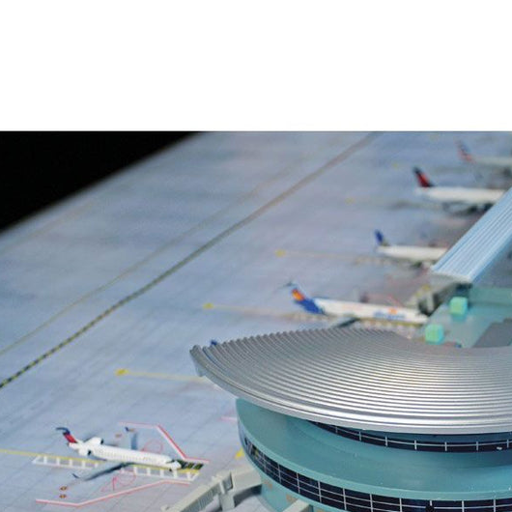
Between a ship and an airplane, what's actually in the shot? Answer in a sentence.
Visible in the photo is an airplane.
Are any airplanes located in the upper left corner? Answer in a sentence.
No, no airplane is visible in the upper left corner.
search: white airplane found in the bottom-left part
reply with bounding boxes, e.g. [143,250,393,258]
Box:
[51,423,177,474]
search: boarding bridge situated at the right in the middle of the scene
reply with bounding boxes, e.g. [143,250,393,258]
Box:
[407,280,459,318]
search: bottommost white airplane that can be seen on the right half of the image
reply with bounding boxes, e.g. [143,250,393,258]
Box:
[300,280,431,328]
